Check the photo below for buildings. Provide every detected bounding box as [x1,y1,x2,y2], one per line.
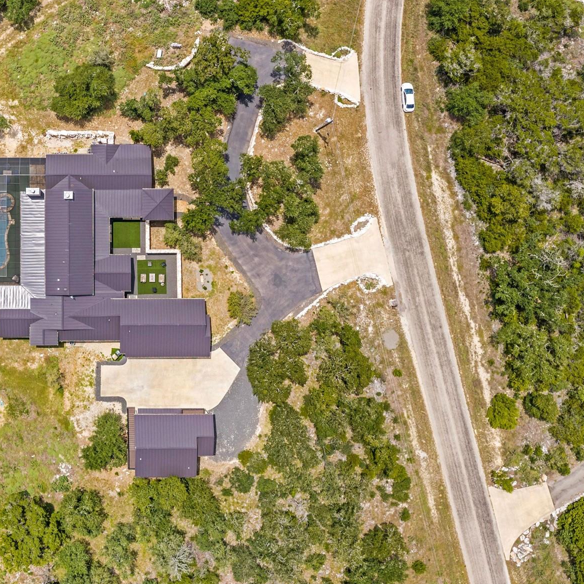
[0,144,210,358]
[134,408,214,479]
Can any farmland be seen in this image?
No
